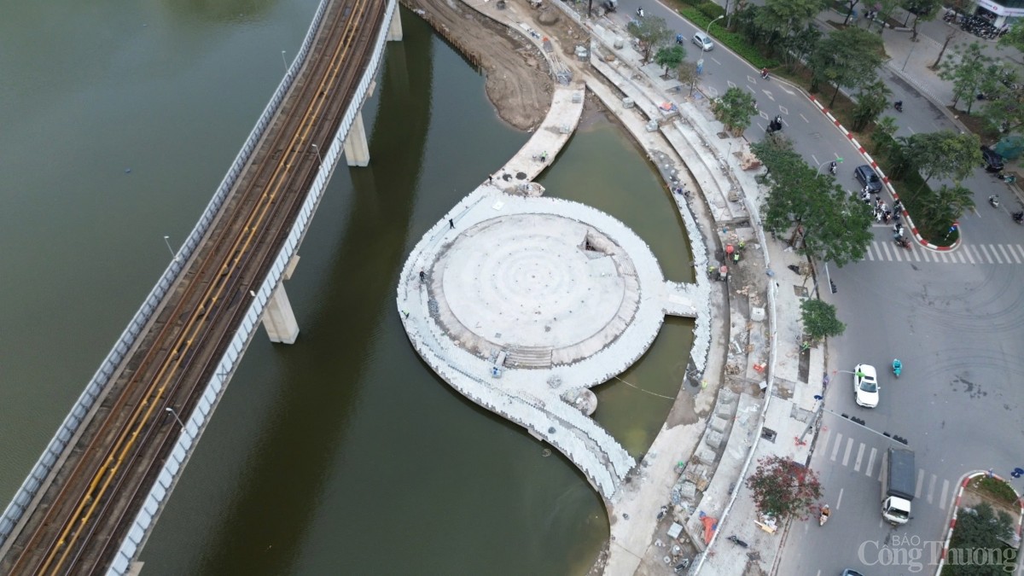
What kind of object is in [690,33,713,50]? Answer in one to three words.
car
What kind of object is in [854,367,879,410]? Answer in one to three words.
car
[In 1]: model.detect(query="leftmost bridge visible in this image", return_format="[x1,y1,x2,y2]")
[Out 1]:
[0,0,401,576]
